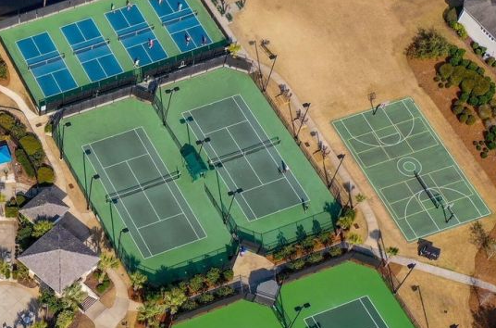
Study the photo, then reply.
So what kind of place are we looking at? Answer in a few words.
sports ground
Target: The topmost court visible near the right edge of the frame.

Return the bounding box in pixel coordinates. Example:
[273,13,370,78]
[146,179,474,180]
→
[330,94,496,242]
